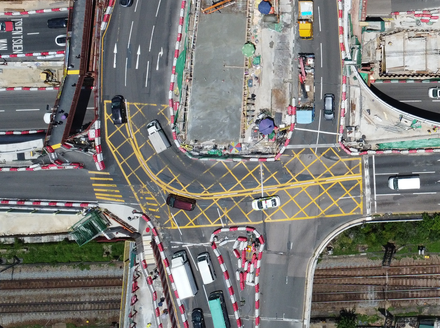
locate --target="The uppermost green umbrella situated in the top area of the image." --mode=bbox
[242,43,256,57]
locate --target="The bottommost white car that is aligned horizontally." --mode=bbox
[252,196,281,210]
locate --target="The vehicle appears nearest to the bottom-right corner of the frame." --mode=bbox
[388,177,420,190]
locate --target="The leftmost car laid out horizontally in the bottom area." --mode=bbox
[166,193,199,211]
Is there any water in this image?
No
